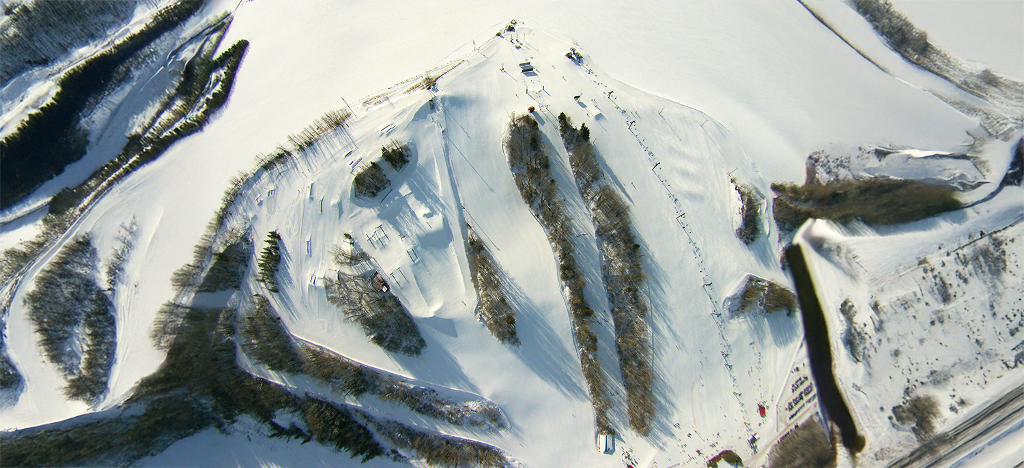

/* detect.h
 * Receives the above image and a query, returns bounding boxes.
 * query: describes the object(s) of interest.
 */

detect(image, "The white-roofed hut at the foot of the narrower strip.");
[598,436,614,456]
